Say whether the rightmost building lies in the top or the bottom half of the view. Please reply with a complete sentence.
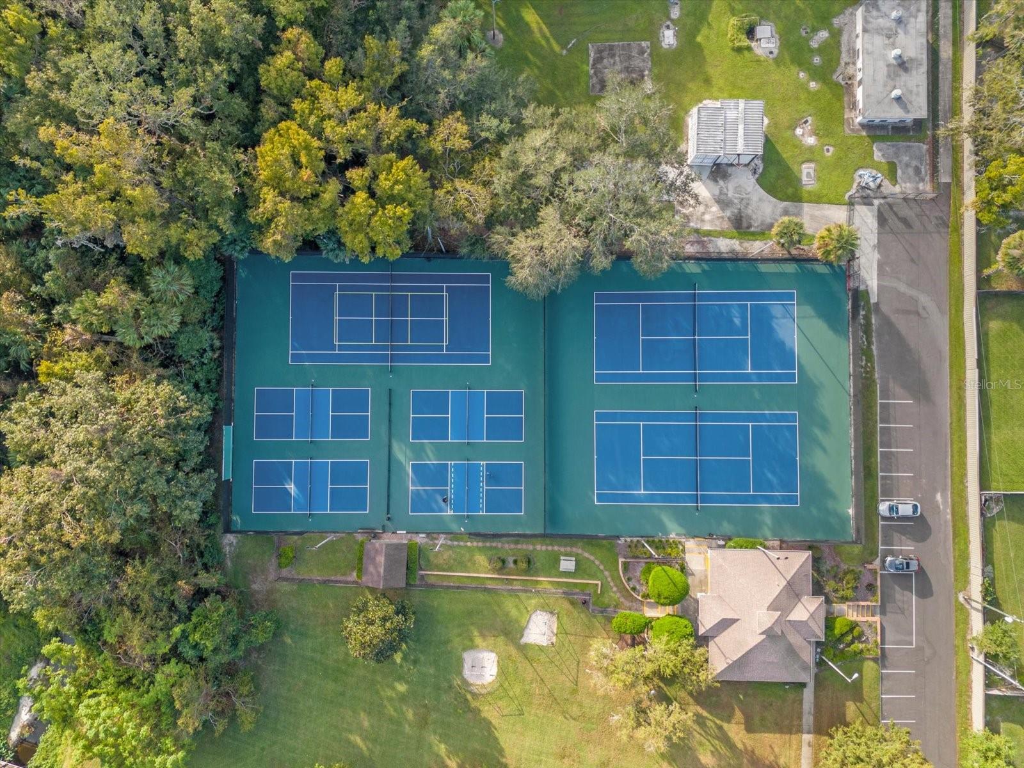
It is in the top half that the rightmost building appears.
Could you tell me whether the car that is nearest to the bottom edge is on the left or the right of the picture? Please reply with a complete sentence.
The car that is nearest to the bottom edge appears in the right half of the scene.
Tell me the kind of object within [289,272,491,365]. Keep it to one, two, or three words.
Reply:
tennis court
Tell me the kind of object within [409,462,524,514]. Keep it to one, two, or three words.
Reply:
sports court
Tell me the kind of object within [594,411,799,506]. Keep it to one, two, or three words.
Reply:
tennis court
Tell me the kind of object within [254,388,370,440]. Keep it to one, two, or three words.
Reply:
sports court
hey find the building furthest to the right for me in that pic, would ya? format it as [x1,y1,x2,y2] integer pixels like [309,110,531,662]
[857,0,927,125]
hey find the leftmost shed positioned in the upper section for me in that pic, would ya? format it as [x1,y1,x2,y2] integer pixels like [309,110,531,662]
[688,100,764,166]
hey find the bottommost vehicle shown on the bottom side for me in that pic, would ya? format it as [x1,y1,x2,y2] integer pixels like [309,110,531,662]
[885,555,924,575]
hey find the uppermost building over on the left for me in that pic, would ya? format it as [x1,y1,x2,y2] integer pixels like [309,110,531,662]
[362,539,409,588]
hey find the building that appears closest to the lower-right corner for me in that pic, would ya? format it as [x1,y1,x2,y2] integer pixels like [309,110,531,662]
[693,549,825,682]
